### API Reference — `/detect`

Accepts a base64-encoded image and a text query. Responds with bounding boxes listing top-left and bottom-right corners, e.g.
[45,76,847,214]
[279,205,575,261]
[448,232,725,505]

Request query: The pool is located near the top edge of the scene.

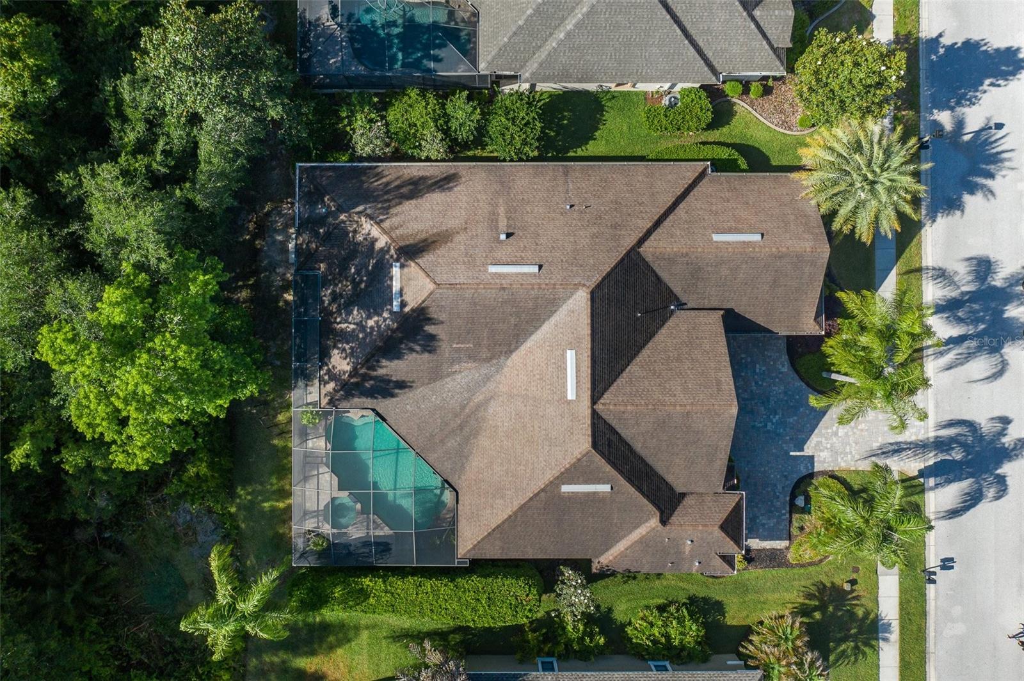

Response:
[326,0,474,71]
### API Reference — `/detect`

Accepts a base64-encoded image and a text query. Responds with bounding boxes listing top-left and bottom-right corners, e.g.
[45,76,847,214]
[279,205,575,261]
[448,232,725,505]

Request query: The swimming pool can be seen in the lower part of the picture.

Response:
[322,414,450,533]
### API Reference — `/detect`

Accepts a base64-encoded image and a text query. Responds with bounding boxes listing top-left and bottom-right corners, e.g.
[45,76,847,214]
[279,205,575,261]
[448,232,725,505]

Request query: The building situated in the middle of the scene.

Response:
[293,161,833,575]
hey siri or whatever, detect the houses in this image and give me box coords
[479,0,799,91]
[463,657,763,681]
[293,161,833,575]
